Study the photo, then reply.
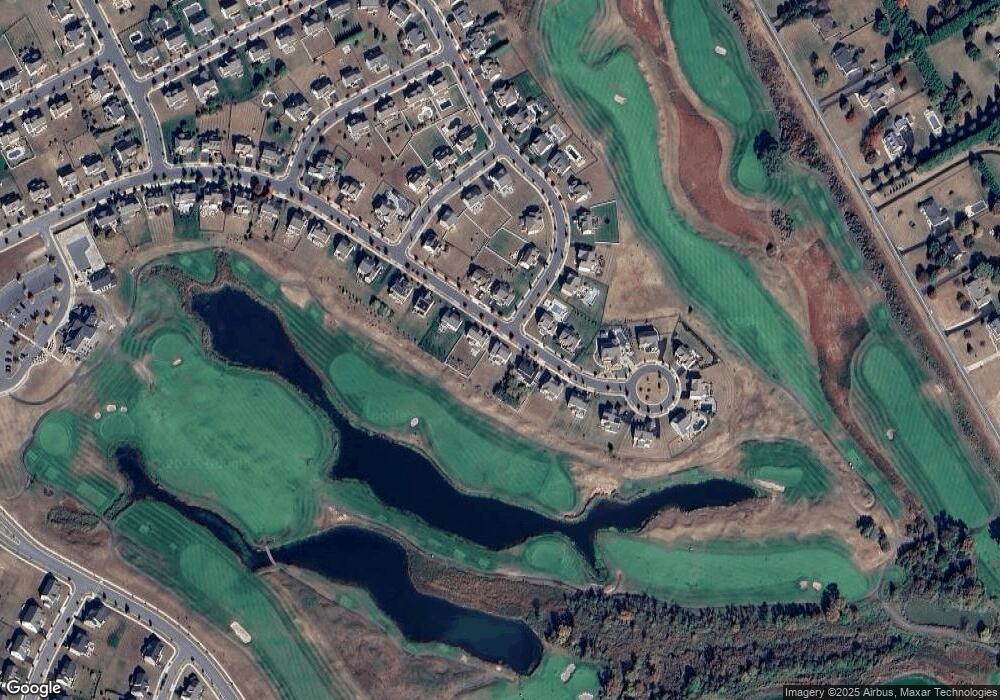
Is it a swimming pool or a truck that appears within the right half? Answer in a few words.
swimming pool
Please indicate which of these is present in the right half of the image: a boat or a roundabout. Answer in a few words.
roundabout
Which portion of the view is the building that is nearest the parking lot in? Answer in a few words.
left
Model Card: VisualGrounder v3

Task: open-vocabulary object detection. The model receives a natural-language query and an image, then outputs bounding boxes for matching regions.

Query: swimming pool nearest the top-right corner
[924,112,944,133]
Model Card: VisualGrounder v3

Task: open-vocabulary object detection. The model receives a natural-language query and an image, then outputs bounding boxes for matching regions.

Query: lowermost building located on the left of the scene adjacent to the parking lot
[58,303,100,347]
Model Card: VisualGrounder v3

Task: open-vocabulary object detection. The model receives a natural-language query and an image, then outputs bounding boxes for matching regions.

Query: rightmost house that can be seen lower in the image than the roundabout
[671,413,700,438]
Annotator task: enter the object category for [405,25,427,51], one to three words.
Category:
house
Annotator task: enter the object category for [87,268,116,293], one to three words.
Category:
barn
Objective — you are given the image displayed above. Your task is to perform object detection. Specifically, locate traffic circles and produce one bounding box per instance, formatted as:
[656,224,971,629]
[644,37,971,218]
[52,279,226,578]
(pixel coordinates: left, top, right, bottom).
[629,364,680,412]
